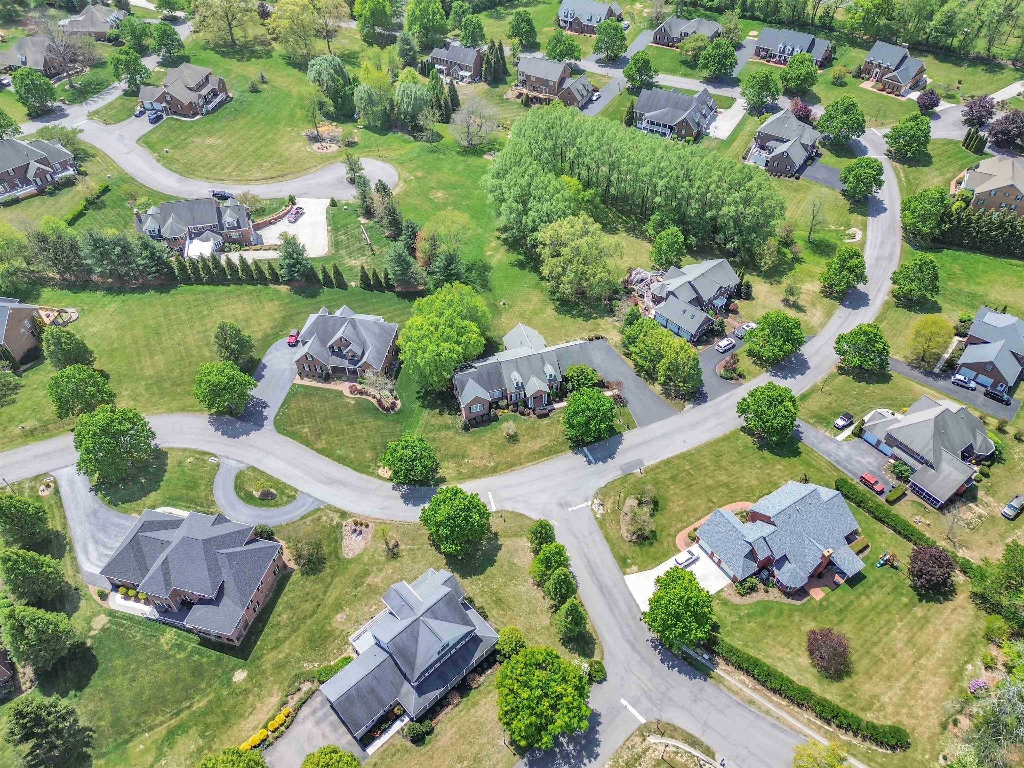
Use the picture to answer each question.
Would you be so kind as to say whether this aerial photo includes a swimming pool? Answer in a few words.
No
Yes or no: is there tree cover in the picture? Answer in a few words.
Yes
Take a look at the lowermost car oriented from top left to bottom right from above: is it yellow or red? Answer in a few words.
red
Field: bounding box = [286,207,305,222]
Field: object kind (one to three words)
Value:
vehicle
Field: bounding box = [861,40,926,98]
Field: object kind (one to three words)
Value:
house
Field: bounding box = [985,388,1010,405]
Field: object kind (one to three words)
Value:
car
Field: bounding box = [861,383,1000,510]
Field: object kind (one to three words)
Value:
house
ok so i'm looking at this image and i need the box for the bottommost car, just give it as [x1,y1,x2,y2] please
[673,552,701,569]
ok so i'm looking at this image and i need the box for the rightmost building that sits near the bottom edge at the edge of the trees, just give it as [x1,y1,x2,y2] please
[319,564,500,738]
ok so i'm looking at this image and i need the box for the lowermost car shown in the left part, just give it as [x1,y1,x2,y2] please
[287,328,300,344]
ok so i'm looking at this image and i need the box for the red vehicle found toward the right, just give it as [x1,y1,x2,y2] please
[859,474,884,494]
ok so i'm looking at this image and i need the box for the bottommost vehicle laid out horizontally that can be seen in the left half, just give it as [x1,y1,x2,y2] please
[211,189,236,201]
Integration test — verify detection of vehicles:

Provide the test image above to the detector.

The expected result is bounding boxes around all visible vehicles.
[590,93,603,101]
[859,474,884,494]
[147,111,160,116]
[147,114,164,123]
[621,21,631,29]
[287,328,300,344]
[912,78,927,89]
[673,552,701,569]
[211,189,236,201]
[286,207,305,222]
[733,322,756,337]
[950,375,977,393]
[714,338,737,352]
[832,412,857,430]
[985,388,1010,405]
[133,111,147,117]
